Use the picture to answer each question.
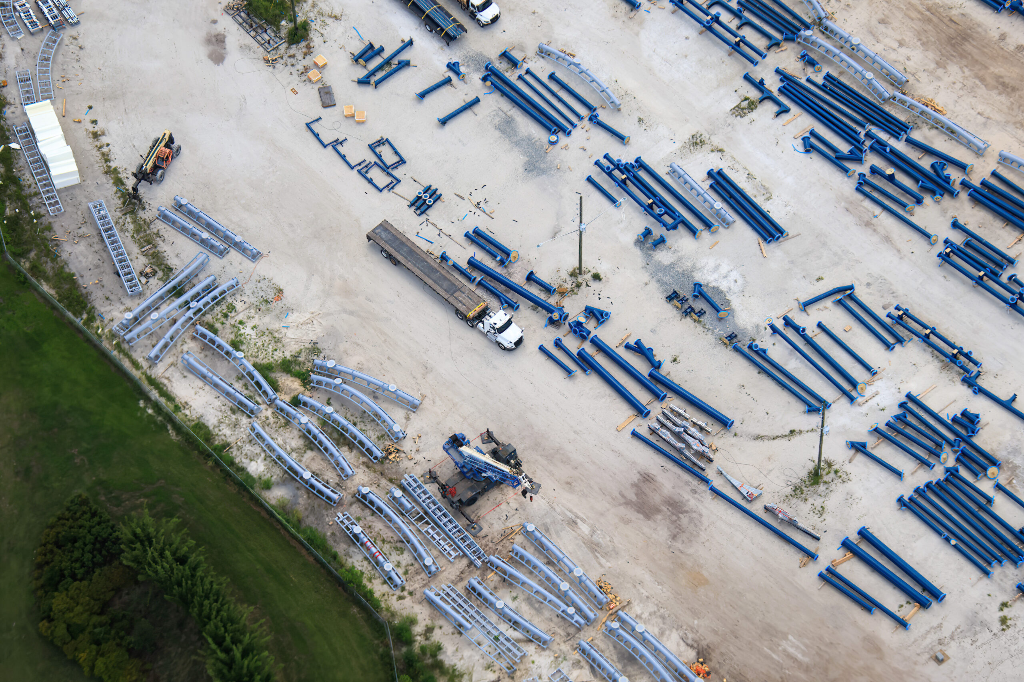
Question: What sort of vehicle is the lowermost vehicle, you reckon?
truck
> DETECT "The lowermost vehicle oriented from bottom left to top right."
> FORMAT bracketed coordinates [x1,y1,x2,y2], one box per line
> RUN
[124,129,182,206]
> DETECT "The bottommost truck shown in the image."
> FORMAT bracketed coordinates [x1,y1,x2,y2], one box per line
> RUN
[456,305,522,353]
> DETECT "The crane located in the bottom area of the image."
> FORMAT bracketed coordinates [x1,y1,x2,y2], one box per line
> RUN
[426,428,537,531]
